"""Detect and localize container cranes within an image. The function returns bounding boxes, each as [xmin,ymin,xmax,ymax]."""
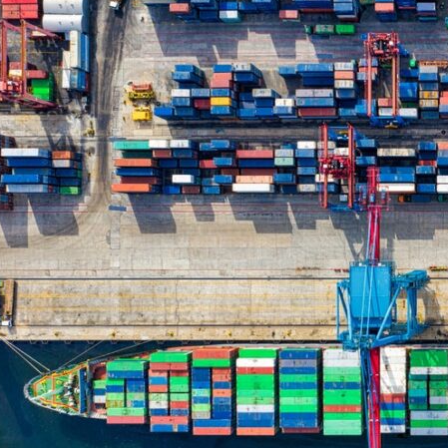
[2,17,78,113]
[336,168,430,448]
[320,120,372,217]
[361,30,408,132]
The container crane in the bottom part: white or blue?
blue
